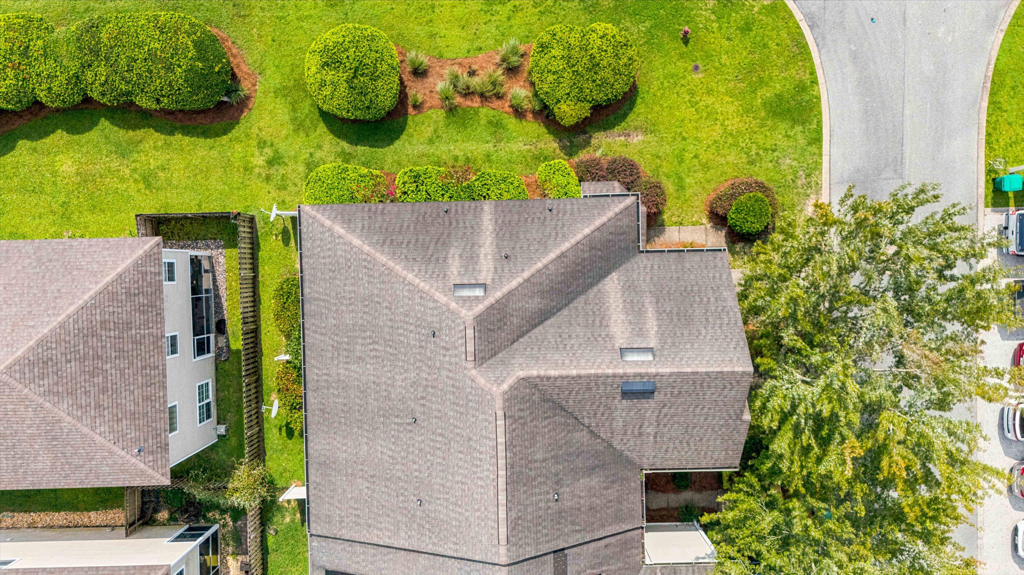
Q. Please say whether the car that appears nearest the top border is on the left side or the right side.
right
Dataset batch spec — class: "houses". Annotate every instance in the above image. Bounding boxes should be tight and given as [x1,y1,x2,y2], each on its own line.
[0,524,222,575]
[0,234,218,490]
[296,181,773,575]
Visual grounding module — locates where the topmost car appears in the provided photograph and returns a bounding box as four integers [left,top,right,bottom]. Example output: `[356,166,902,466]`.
[1003,214,1024,255]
